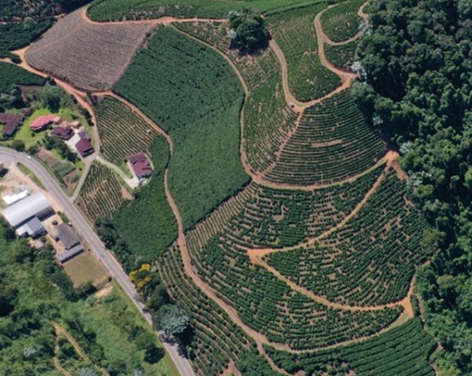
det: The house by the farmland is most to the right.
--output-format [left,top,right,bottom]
[128,153,149,184]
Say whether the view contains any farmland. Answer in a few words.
Yes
